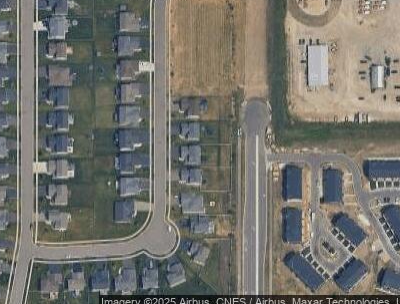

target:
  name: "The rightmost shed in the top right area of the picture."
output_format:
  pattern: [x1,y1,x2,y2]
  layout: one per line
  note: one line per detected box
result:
[371,65,384,91]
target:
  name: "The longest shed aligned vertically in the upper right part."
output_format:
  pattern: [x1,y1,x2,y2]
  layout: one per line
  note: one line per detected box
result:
[307,45,329,88]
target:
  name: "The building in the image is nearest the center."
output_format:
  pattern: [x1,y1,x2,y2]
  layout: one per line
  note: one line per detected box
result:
[180,145,204,165]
